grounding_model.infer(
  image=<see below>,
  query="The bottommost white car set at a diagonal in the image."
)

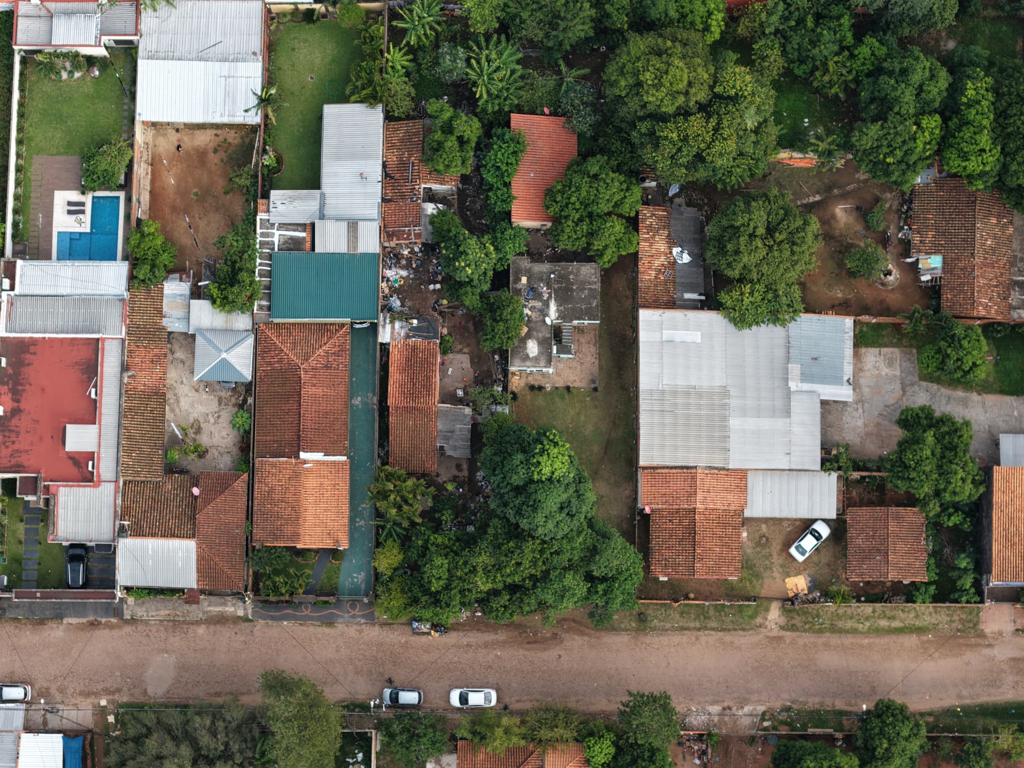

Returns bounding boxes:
[790,519,829,563]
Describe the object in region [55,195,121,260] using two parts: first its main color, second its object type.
blue swimming pool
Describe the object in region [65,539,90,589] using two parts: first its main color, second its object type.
black car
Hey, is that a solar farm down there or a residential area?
residential area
